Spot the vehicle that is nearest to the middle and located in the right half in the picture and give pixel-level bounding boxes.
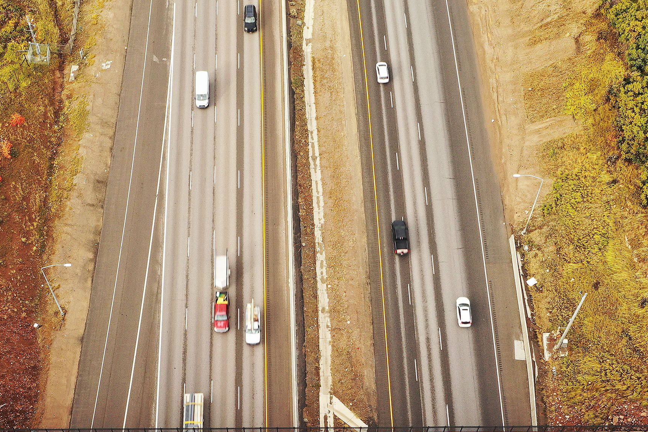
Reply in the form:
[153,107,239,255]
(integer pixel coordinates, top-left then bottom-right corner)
[392,220,409,259]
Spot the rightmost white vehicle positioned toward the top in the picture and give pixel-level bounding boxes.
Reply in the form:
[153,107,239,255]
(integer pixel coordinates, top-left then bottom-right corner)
[376,61,389,83]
